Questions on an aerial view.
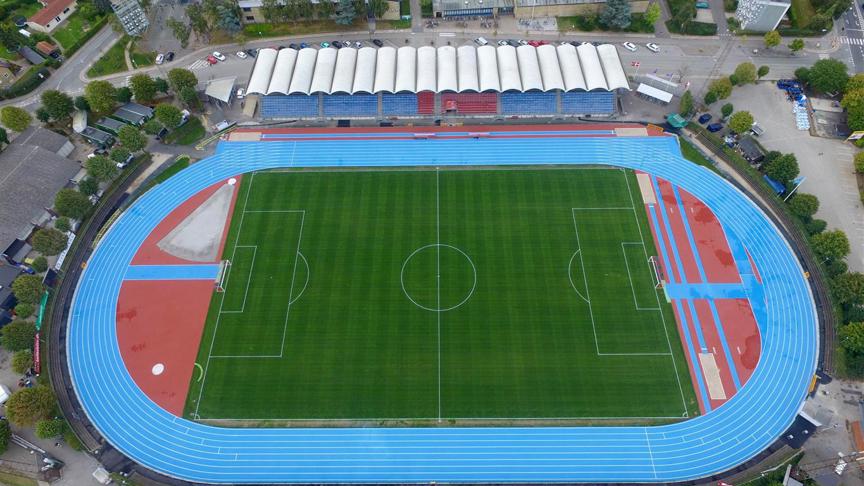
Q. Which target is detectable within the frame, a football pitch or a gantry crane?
football pitch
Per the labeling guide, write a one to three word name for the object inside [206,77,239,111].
building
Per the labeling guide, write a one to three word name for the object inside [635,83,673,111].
building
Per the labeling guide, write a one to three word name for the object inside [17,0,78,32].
house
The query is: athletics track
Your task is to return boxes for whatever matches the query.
[67,136,818,484]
